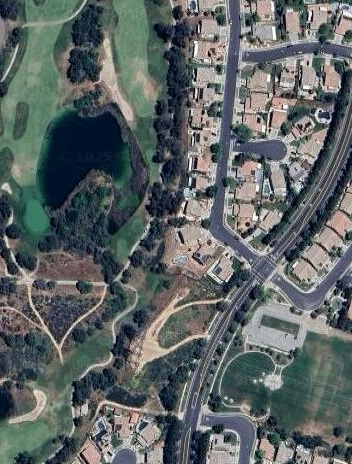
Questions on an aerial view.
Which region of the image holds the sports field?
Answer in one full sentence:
The sports field is located in the bottom right region of the scene.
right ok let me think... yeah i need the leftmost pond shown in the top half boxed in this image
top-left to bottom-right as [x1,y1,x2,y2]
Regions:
[35,108,148,231]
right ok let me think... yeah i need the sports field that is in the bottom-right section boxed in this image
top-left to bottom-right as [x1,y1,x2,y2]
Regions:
[292,330,352,431]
